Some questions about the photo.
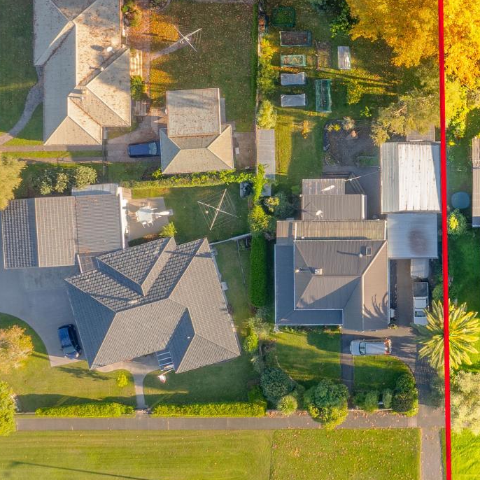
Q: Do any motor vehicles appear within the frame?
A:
Yes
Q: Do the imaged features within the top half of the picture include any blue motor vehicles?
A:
Yes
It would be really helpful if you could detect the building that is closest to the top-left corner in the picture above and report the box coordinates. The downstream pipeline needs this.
[33,0,136,145]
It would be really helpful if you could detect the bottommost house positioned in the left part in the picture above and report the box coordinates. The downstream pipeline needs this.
[63,236,242,374]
